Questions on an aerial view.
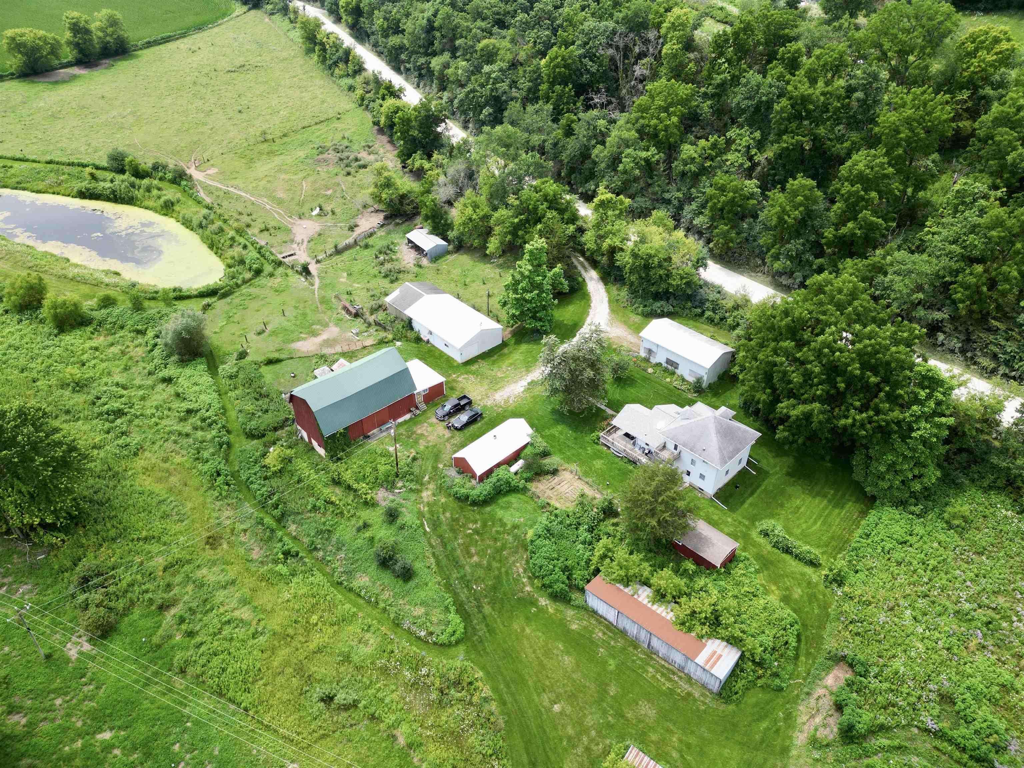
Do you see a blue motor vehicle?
No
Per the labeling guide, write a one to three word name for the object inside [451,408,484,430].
car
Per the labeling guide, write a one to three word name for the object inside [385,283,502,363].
shed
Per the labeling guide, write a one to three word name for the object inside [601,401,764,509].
house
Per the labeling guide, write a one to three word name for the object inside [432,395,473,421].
truck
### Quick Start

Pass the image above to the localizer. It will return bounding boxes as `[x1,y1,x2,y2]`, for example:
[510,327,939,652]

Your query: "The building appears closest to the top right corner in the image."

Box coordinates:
[639,318,735,386]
